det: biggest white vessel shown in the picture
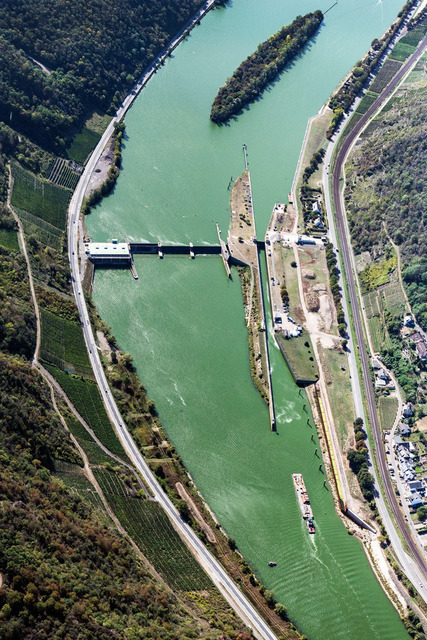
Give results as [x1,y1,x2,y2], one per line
[293,473,313,519]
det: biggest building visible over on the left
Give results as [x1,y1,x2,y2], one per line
[89,241,131,261]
